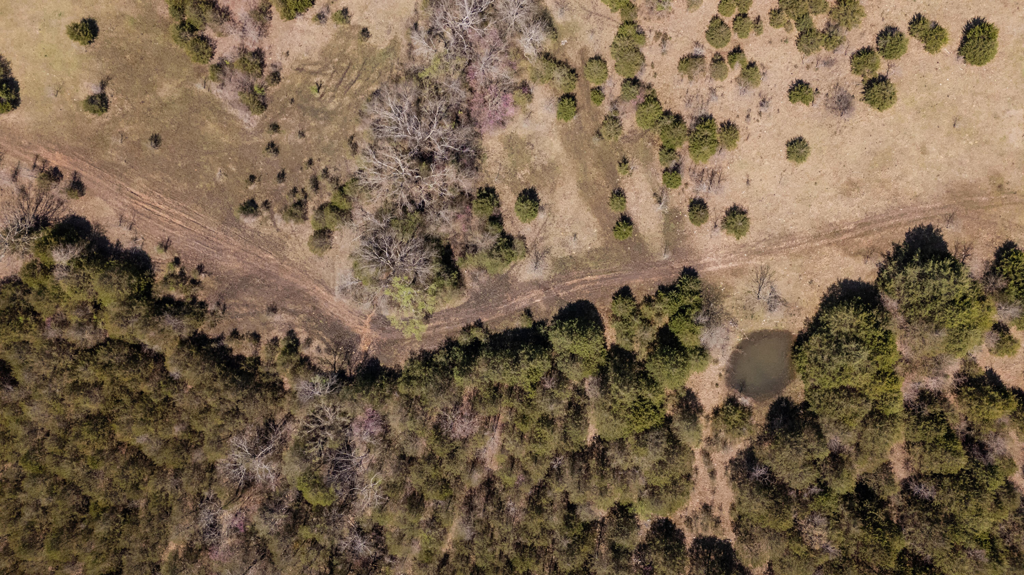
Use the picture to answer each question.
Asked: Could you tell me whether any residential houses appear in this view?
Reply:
No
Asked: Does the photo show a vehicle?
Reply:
No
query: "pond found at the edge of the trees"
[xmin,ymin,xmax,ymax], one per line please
[722,328,800,405]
